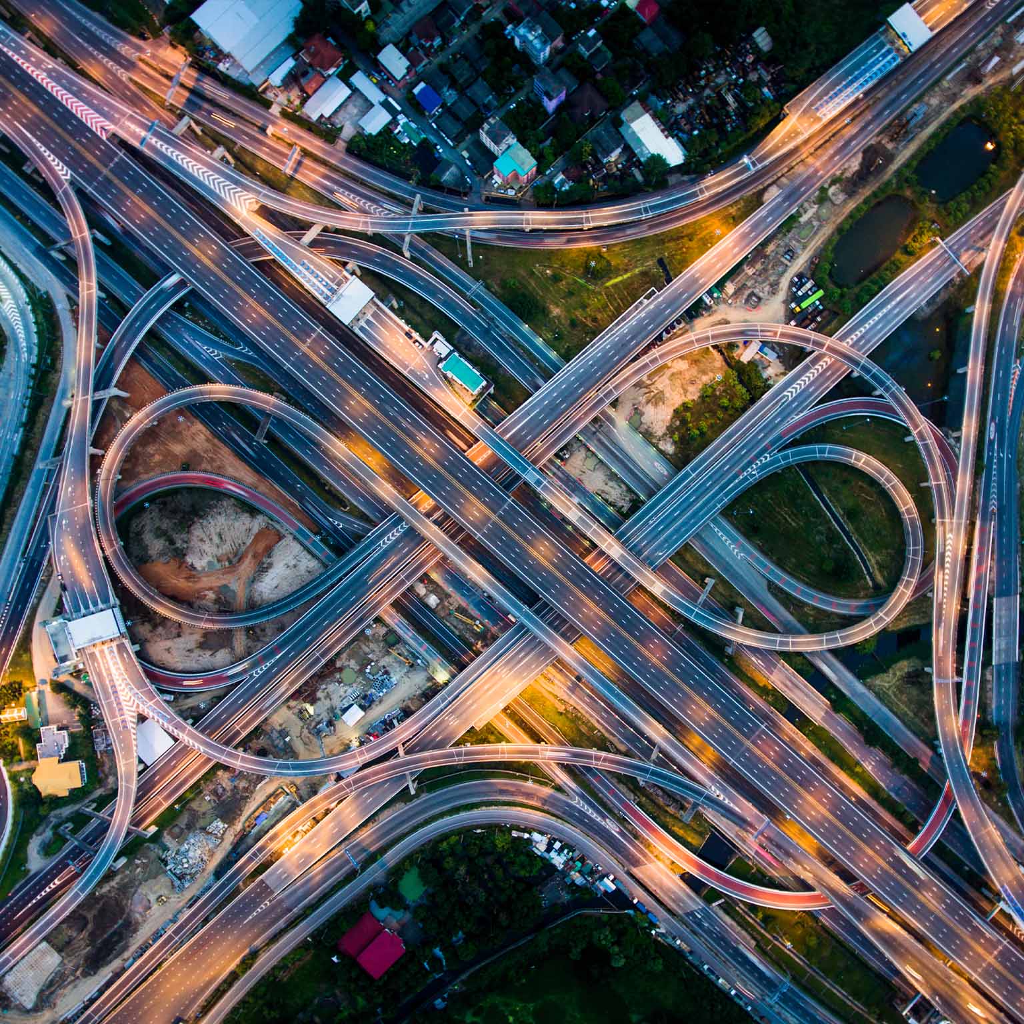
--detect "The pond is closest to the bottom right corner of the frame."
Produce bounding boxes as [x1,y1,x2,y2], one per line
[781,618,932,723]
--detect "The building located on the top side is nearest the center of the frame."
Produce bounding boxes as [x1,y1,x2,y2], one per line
[428,335,493,397]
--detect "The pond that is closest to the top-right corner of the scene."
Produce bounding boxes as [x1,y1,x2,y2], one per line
[919,117,999,204]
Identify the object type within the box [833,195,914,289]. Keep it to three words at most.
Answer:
pond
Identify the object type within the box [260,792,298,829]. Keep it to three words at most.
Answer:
shed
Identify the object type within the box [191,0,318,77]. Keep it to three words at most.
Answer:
building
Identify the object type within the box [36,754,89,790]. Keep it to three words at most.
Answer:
house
